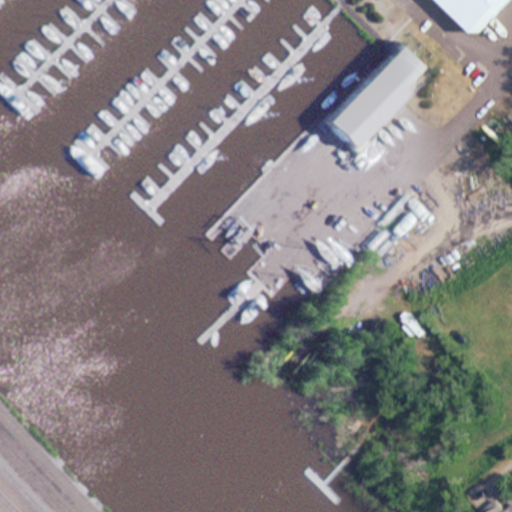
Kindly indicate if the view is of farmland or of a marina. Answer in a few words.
marina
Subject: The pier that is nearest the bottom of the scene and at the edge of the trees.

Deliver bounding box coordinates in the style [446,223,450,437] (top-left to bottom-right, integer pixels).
[304,458,350,505]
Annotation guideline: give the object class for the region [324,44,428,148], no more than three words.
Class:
building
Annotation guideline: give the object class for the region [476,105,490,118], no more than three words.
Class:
vehicle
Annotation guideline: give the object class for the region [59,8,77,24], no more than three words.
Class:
boat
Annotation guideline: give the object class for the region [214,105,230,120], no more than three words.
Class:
boat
